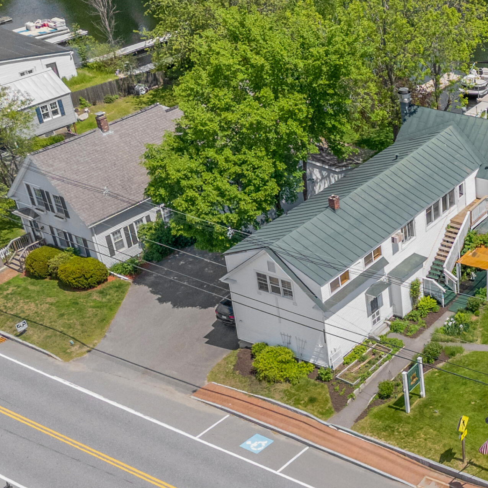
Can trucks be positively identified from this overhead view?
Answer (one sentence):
No, there is no truck in the image.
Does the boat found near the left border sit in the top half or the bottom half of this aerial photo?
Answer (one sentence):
The boat found near the left border is in the top half of the image.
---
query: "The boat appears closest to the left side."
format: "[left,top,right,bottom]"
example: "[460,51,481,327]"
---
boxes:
[2,15,73,37]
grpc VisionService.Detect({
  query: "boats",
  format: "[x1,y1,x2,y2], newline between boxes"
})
[2,15,73,37]
[446,47,488,93]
